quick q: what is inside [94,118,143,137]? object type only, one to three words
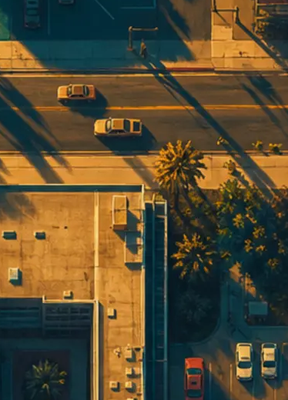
car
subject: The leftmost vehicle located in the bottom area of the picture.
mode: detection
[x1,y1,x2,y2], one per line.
[183,358,206,400]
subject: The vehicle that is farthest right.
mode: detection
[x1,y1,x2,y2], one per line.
[259,343,280,381]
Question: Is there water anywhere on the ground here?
No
